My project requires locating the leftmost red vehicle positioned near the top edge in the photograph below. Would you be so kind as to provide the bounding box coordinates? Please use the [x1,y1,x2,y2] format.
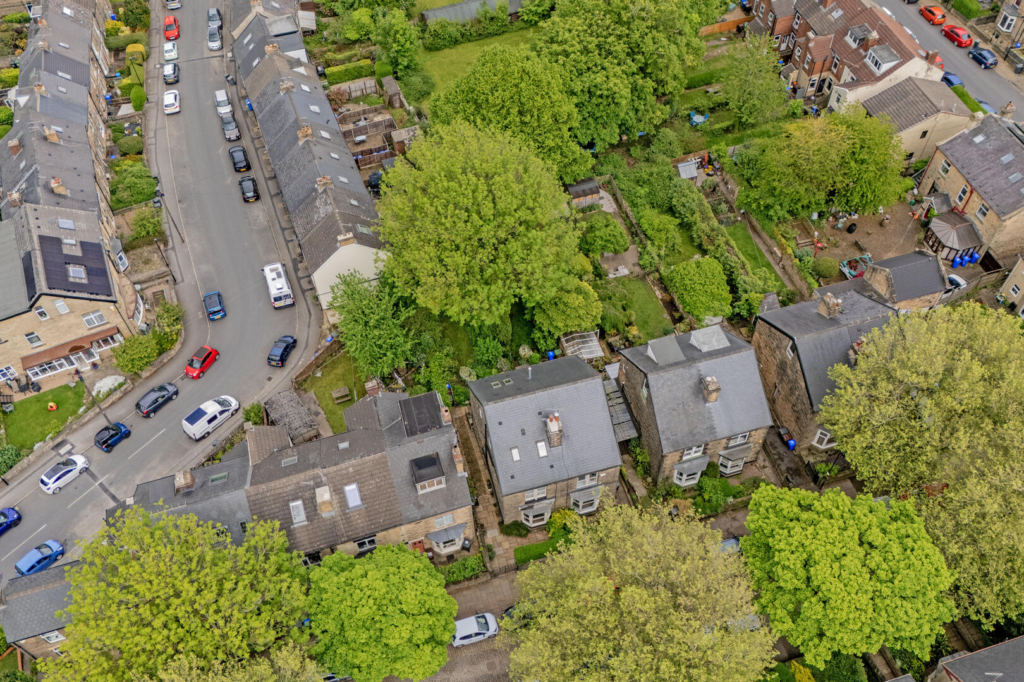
[162,15,180,40]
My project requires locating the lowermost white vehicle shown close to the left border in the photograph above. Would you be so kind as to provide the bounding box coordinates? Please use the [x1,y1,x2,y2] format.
[38,456,91,495]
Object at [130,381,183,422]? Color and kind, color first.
gray car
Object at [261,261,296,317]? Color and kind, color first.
white camper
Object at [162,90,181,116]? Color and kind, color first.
white car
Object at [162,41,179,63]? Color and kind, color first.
white car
